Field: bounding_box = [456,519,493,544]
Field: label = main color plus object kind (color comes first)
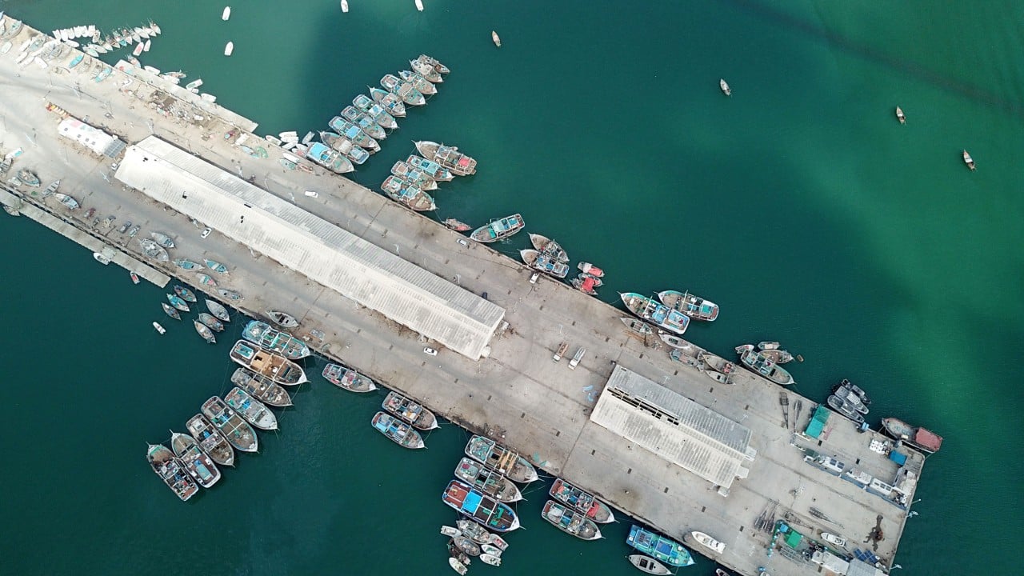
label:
gray boat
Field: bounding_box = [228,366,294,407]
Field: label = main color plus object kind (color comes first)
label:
gray boat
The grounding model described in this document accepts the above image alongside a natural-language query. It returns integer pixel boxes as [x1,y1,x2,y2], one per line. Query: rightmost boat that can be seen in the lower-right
[877,416,944,456]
